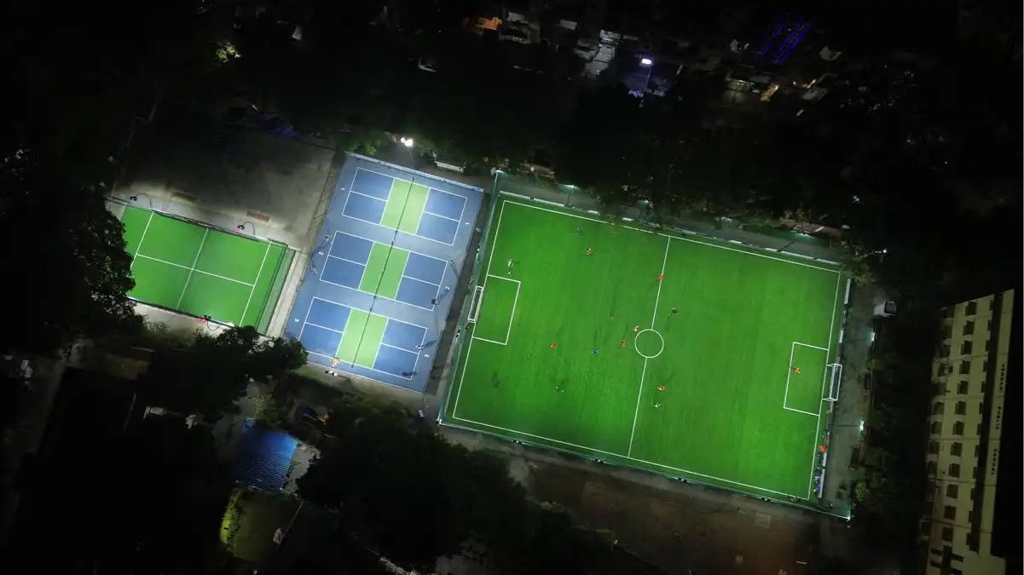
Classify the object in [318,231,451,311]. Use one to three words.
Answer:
sports court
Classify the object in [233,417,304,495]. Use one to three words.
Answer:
shed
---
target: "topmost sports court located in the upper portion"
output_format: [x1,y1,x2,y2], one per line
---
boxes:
[341,168,470,245]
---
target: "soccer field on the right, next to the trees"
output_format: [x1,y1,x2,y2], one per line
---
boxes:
[443,193,848,509]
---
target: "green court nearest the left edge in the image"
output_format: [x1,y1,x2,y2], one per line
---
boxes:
[97,204,297,334]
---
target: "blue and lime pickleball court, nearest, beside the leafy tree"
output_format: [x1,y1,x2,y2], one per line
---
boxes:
[295,296,430,380]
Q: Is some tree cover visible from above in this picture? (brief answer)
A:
Yes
